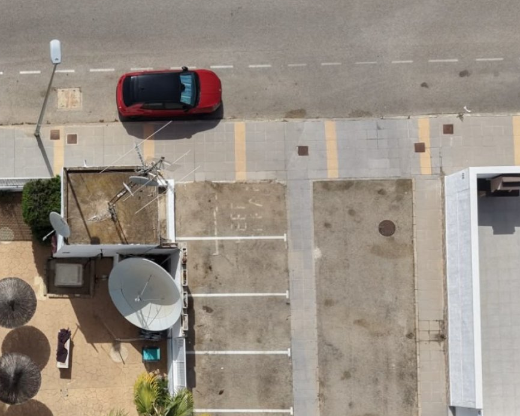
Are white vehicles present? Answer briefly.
No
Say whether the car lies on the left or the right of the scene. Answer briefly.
left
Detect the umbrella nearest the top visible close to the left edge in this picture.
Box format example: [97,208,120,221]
[0,275,36,330]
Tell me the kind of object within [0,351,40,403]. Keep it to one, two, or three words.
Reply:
umbrella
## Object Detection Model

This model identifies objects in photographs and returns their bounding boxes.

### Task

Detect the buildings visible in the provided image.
[444,164,520,416]
[51,168,193,336]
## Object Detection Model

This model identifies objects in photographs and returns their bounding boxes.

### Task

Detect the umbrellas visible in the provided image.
[0,275,36,330]
[0,351,40,403]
